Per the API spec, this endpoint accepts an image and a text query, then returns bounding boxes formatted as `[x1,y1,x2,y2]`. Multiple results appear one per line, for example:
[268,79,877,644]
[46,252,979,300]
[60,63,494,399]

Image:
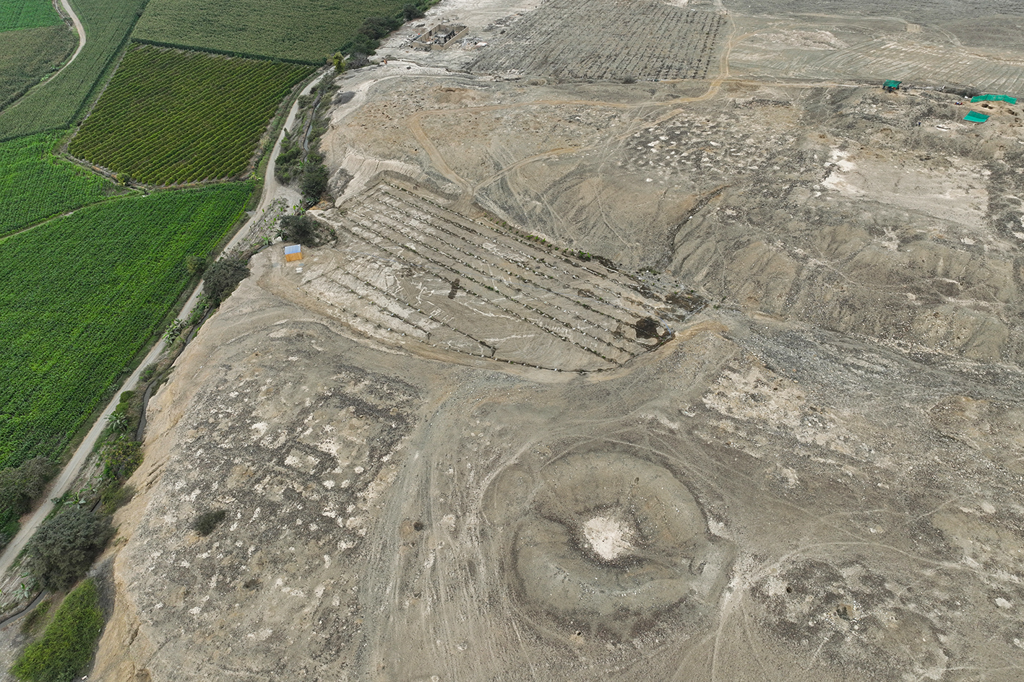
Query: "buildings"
[284,245,303,261]
[412,25,469,50]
